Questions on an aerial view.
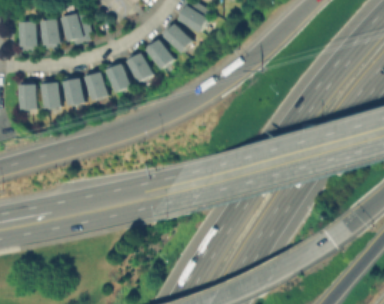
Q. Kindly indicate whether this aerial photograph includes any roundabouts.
No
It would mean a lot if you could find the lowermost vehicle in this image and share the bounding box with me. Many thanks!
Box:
[176,258,198,293]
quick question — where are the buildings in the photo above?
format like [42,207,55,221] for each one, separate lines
[146,39,178,73]
[162,24,197,55]
[40,83,62,114]
[40,20,62,49]
[62,14,86,44]
[104,63,134,95]
[178,5,210,34]
[18,84,39,115]
[18,22,39,52]
[62,76,88,110]
[84,72,111,104]
[126,52,158,86]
